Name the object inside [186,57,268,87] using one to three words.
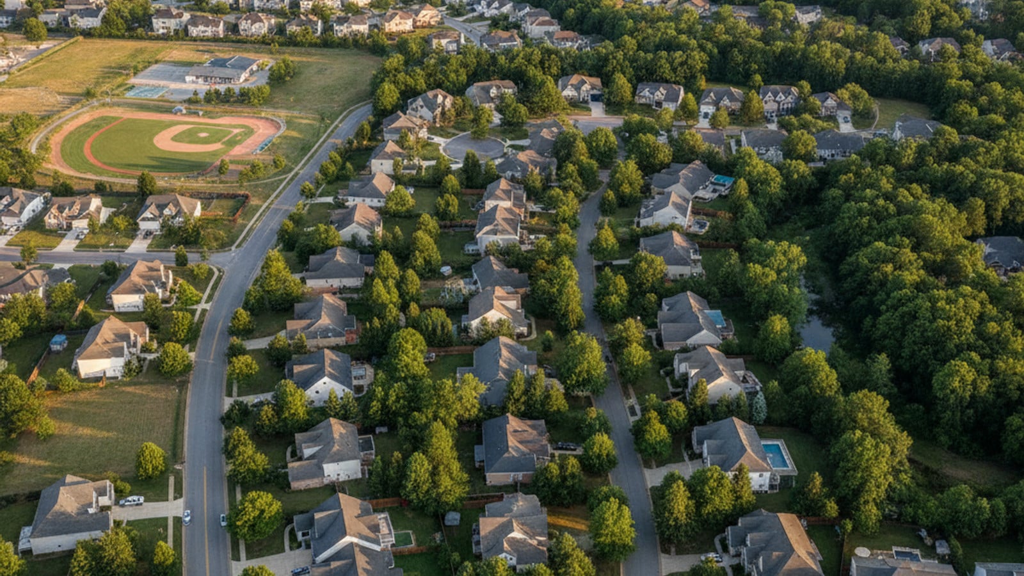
building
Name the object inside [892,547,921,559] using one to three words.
swimming pool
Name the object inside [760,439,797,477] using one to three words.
swimming pool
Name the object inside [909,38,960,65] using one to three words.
house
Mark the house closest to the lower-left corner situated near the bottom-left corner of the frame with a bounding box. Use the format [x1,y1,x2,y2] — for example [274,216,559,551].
[31,470,125,549]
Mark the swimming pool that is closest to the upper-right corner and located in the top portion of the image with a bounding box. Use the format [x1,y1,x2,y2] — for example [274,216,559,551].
[710,176,735,189]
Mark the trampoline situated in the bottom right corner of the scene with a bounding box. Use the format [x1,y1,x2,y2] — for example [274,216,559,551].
[852,545,872,560]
